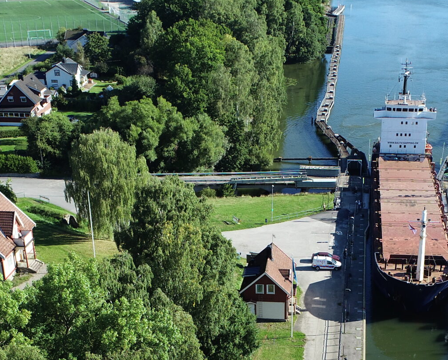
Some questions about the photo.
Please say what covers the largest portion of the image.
trees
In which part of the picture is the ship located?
right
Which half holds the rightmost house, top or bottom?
bottom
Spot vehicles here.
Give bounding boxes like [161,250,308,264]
[311,250,341,260]
[312,253,343,269]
